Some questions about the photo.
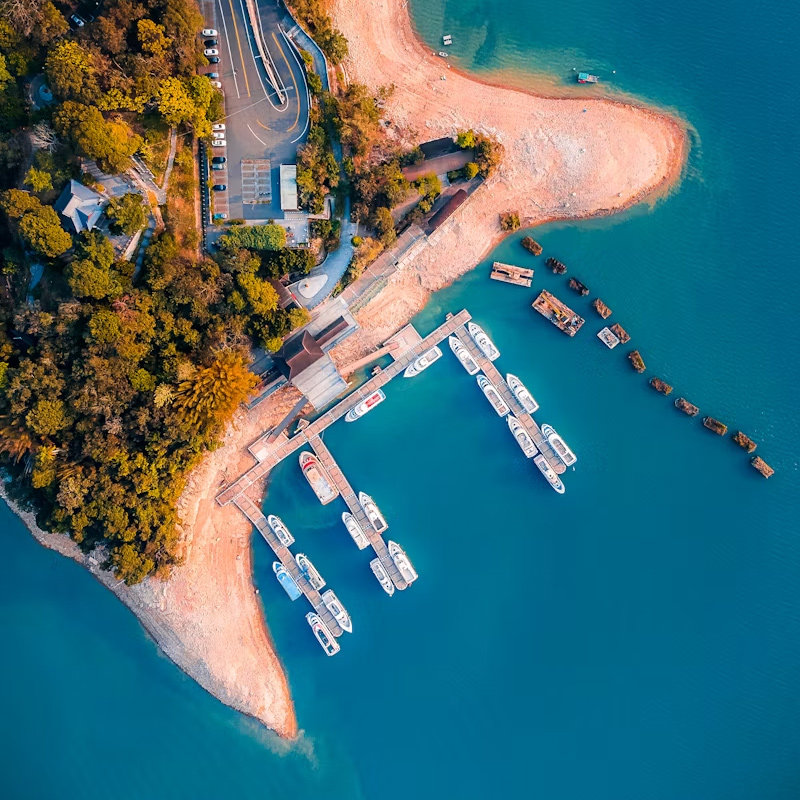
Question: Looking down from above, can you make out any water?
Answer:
Yes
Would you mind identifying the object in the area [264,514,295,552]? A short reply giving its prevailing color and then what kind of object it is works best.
white boat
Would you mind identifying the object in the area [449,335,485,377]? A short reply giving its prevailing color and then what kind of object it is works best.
white boat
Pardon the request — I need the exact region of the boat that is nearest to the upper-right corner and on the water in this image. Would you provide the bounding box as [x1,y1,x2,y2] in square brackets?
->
[577,70,599,84]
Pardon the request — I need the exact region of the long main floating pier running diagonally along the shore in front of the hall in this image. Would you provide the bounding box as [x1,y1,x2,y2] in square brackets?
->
[216,309,472,506]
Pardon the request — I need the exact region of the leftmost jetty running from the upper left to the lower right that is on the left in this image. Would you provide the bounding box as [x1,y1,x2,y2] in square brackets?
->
[235,496,345,634]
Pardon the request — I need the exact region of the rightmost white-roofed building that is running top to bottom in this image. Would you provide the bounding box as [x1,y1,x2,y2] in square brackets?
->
[280,164,298,211]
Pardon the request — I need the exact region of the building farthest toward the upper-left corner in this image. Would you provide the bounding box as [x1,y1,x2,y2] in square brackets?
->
[55,178,106,233]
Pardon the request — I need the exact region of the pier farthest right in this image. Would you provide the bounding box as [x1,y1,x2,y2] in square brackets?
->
[455,321,564,473]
